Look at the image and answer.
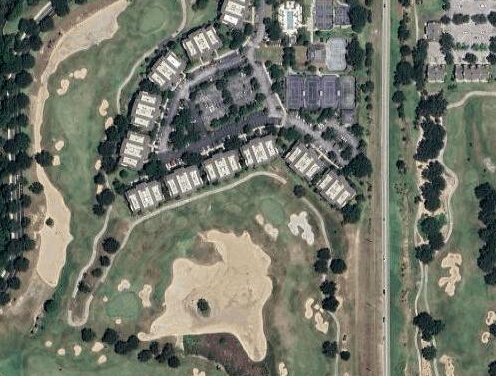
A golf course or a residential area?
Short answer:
golf course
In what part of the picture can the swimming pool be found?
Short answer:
top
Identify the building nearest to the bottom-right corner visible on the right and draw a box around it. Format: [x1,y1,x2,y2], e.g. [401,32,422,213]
[316,169,355,208]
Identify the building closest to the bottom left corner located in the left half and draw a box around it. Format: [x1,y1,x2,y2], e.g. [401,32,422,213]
[125,178,166,212]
